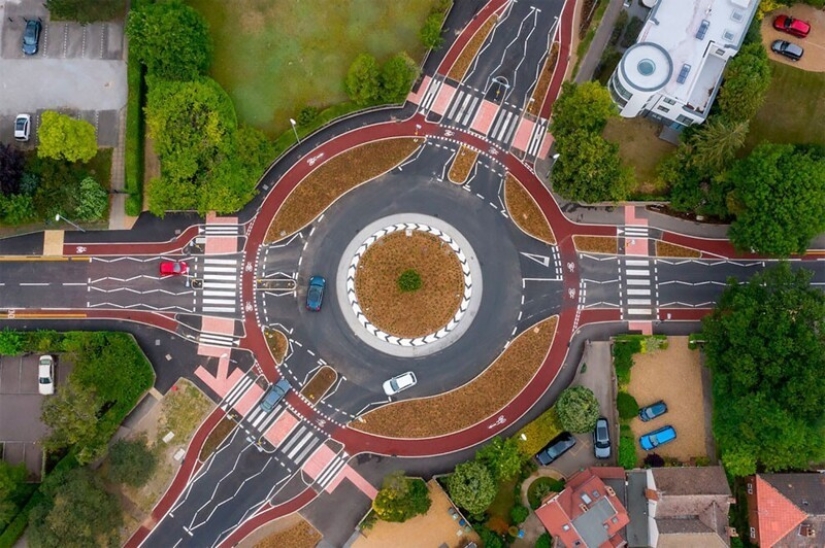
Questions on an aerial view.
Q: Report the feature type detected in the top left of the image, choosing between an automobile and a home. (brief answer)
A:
automobile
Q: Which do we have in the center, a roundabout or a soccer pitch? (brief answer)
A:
roundabout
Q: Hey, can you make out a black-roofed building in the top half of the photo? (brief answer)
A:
No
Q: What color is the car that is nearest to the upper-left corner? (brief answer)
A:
blue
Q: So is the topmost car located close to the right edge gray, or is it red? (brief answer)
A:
red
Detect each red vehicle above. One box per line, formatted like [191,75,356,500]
[771,15,811,37]
[159,259,189,276]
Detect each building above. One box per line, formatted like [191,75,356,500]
[641,467,739,548]
[606,0,764,135]
[531,469,631,548]
[744,473,825,548]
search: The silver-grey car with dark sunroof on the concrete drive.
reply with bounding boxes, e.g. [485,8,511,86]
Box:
[592,417,612,458]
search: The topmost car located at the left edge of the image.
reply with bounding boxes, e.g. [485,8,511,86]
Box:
[21,20,43,56]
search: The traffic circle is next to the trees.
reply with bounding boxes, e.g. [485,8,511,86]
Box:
[239,120,587,457]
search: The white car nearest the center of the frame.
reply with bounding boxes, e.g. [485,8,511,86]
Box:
[381,372,418,395]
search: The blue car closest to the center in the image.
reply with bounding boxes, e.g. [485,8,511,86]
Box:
[306,276,325,311]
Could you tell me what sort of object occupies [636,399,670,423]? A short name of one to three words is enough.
car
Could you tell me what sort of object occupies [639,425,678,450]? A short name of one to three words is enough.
car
